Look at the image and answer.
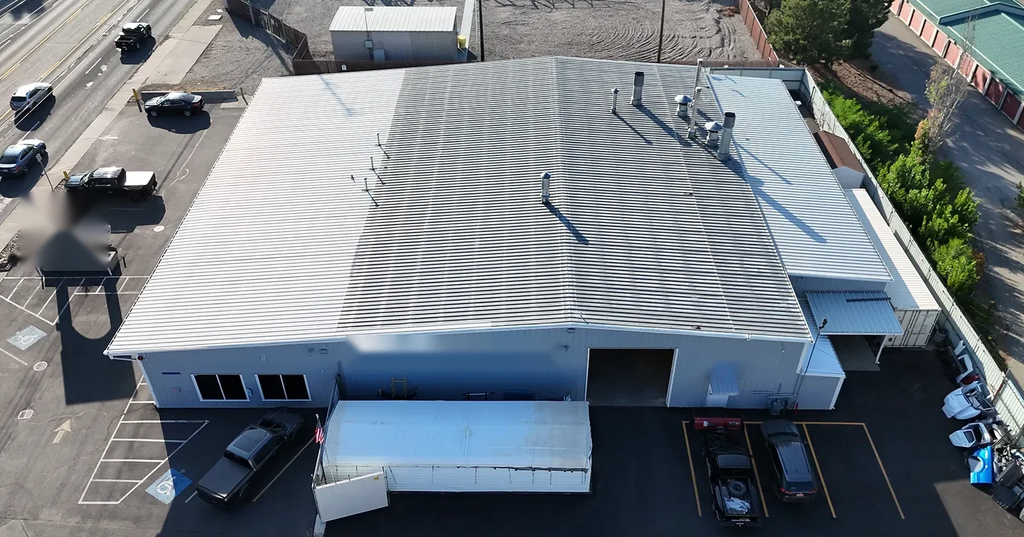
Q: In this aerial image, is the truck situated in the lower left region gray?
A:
No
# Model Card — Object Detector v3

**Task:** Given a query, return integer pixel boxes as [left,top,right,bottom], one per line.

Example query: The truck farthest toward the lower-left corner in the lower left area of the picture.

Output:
[193,406,322,520]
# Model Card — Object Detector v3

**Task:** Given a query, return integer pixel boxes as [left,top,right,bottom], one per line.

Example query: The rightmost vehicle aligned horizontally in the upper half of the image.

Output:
[138,88,211,115]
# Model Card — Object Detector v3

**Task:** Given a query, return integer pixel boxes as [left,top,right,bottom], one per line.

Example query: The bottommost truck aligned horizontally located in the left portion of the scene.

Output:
[65,155,166,194]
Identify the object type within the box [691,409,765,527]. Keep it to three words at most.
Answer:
truck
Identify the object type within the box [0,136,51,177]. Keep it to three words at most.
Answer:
car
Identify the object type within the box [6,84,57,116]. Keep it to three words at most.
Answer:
car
